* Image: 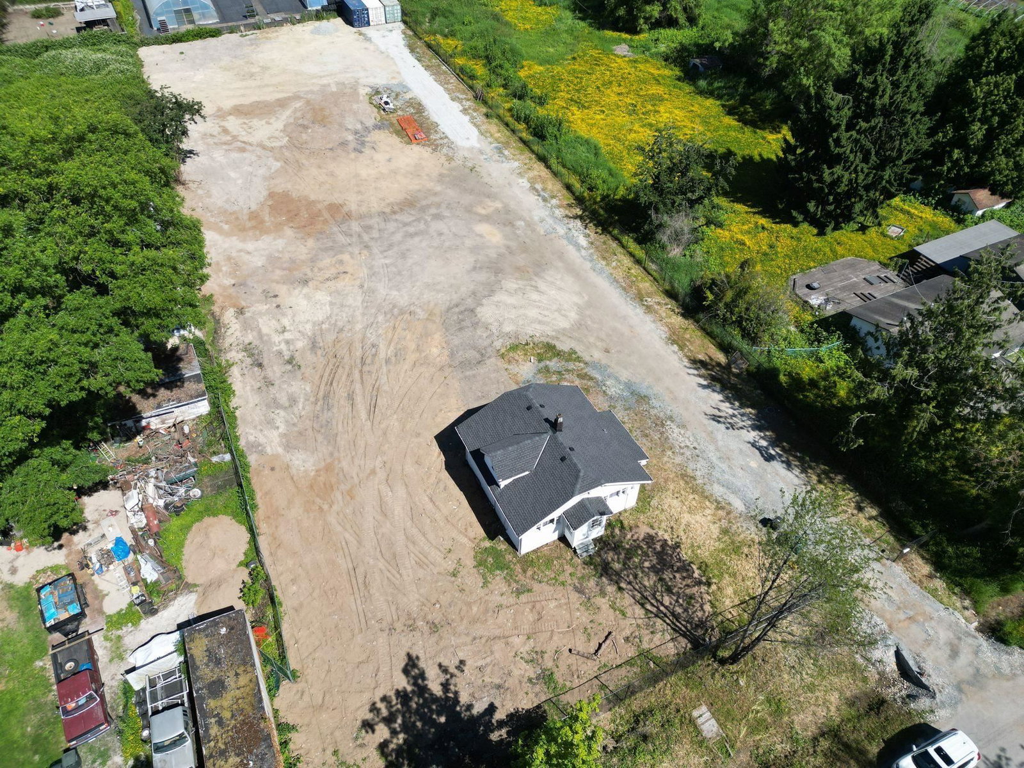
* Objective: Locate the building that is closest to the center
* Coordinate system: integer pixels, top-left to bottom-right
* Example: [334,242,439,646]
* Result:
[455,382,652,558]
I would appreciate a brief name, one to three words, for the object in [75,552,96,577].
work vehicle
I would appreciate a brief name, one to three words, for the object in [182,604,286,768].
shed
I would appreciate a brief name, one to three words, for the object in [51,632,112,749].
truck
